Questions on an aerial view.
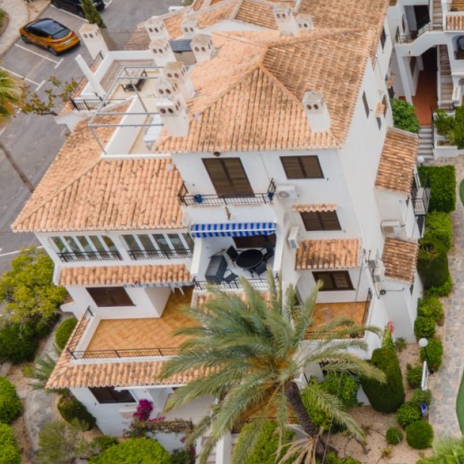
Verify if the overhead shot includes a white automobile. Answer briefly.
No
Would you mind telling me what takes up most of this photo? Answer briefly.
buildings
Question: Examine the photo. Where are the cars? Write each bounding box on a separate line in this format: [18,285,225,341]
[24,24,71,57]
[51,0,91,19]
